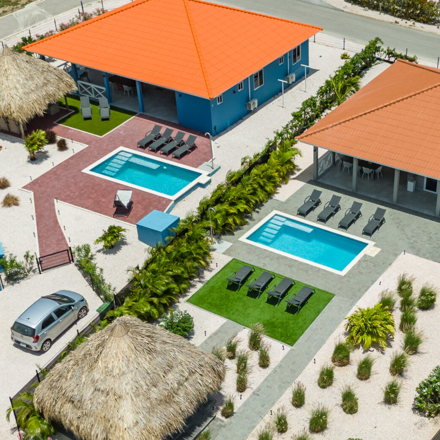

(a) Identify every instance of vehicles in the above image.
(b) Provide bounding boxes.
[11,296,88,351]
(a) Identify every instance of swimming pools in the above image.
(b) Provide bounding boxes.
[240,210,373,276]
[82,146,216,207]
